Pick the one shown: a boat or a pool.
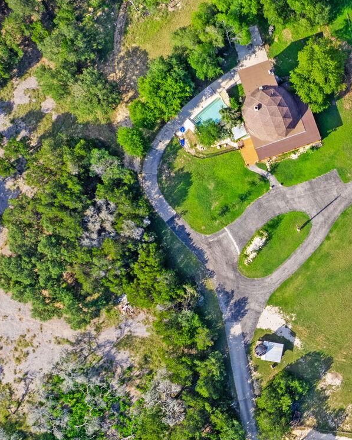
pool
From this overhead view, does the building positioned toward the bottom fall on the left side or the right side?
right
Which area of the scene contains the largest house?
top right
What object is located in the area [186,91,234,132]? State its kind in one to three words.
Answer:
swimming pool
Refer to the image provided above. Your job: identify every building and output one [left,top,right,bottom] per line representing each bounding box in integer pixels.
[238,60,323,164]
[260,340,286,362]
